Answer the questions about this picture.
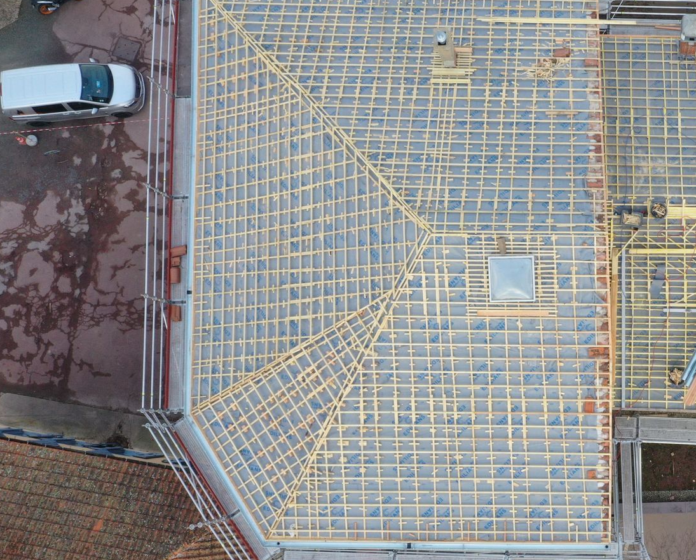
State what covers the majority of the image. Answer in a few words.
buildings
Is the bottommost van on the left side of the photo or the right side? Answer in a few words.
left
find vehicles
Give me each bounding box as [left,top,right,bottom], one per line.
[0,57,155,127]
[30,0,67,15]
